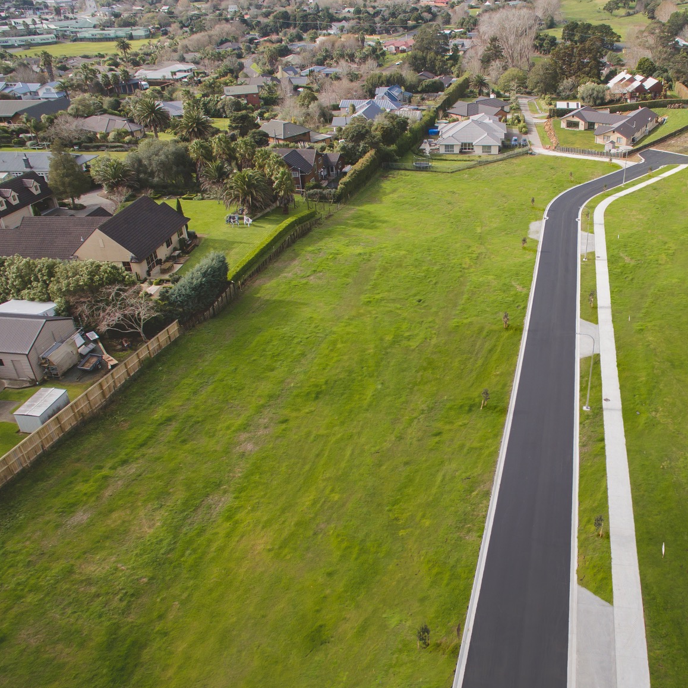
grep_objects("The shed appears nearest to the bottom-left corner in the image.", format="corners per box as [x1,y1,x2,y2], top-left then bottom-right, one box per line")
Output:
[16,387,73,433]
